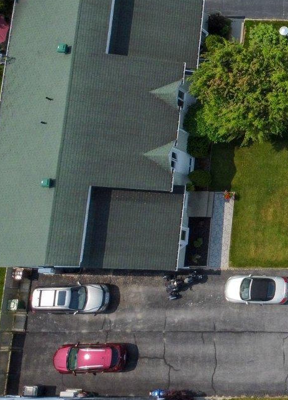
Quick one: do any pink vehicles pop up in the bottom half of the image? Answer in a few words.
Yes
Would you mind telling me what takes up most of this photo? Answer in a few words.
buildings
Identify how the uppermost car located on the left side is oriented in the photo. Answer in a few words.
horizontally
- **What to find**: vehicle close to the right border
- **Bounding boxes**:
[224,271,288,307]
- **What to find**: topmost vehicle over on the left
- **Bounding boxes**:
[30,279,115,317]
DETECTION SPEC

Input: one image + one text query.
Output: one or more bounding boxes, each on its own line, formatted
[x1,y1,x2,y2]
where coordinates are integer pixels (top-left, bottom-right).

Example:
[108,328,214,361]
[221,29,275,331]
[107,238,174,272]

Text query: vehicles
[224,271,288,307]
[163,270,179,304]
[172,271,208,290]
[30,279,115,317]
[52,340,131,377]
